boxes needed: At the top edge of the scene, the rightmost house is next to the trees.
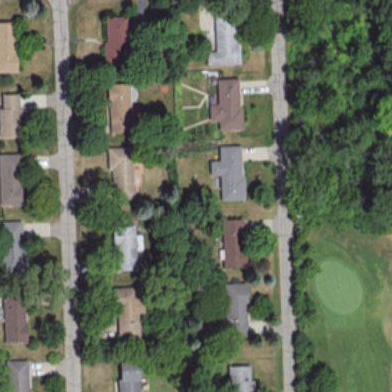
[208,14,243,66]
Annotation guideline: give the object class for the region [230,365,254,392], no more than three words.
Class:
house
